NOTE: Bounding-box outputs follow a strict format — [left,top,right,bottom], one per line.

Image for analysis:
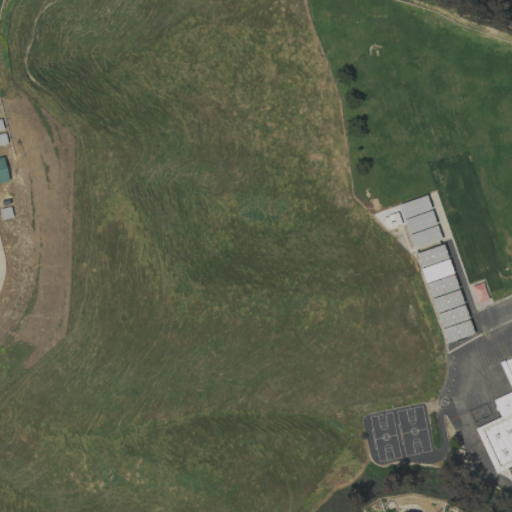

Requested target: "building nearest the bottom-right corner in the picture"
[478,413,512,474]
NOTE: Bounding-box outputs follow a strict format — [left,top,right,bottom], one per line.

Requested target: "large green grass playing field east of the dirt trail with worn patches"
[306,0,512,302]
